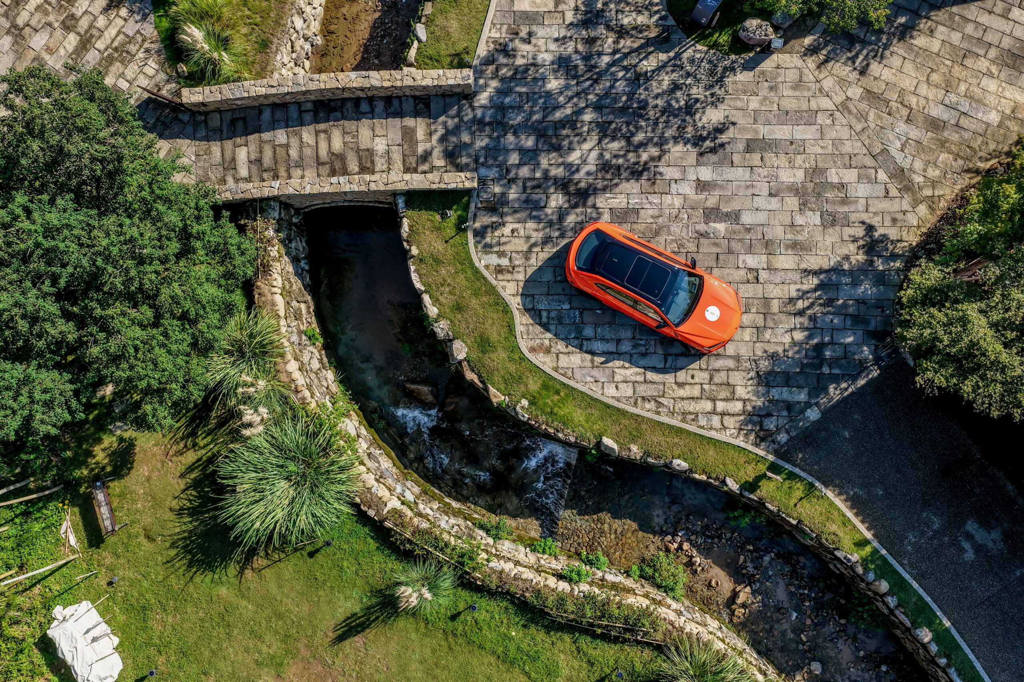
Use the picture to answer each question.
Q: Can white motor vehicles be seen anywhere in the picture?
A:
No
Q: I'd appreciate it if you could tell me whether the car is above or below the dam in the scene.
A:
above it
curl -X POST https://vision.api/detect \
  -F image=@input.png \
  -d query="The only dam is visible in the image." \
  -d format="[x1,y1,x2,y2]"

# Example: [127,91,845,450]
[543,451,581,542]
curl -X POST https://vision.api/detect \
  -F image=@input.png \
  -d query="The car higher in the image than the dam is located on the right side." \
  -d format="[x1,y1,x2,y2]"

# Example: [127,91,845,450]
[568,221,740,350]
